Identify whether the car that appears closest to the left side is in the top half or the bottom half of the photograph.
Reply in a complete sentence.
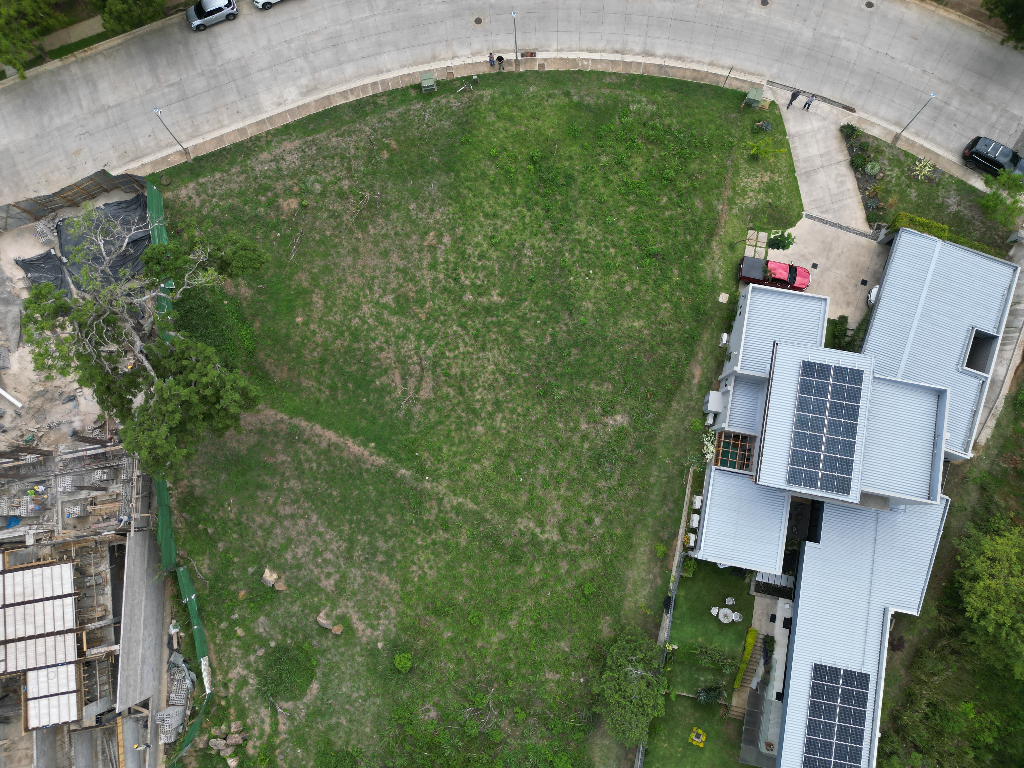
You can find the car that appears closest to the left side in the top half.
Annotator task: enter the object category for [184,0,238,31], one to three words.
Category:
car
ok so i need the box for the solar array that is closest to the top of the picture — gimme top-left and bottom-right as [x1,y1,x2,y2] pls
[787,355,864,498]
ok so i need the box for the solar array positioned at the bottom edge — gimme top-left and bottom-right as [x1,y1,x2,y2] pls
[801,657,870,768]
